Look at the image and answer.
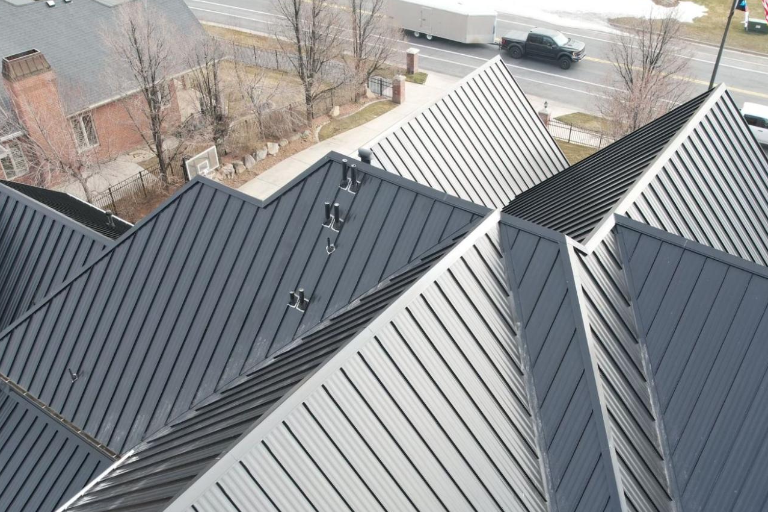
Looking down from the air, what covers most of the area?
buildings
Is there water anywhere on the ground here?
No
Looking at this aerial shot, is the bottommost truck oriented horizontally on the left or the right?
right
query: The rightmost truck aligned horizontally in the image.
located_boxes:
[499,25,590,69]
